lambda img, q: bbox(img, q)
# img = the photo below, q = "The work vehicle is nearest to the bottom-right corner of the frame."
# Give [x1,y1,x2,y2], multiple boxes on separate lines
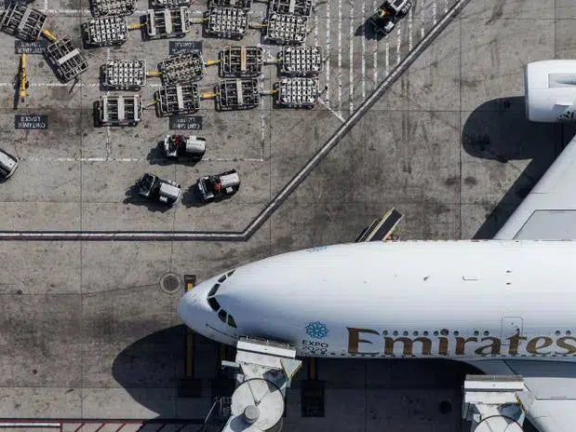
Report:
[346,206,405,245]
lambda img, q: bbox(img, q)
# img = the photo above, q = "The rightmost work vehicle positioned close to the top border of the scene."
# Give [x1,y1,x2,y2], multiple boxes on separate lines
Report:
[371,0,412,35]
